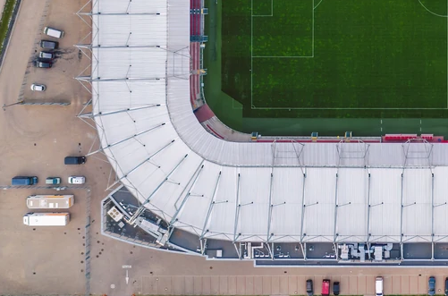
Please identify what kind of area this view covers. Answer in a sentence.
The picture captures a sports ground.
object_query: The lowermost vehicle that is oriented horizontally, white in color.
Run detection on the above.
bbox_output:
[22,212,73,226]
